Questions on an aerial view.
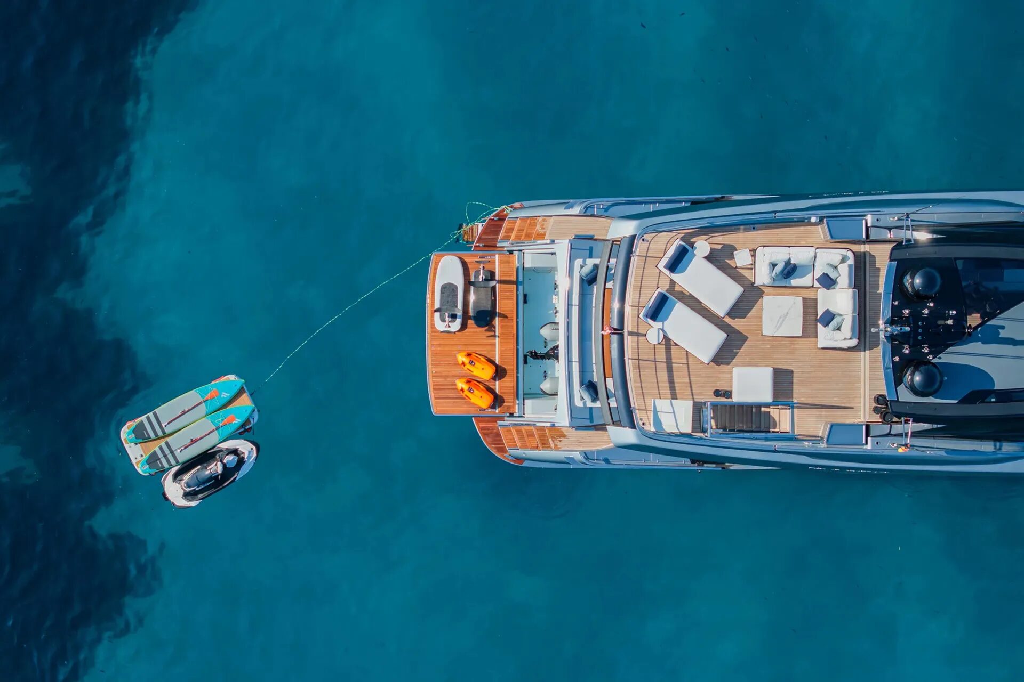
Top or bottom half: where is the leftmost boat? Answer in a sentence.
The leftmost boat is in the bottom half of the image.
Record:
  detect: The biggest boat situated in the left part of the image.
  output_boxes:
[162,442,262,507]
